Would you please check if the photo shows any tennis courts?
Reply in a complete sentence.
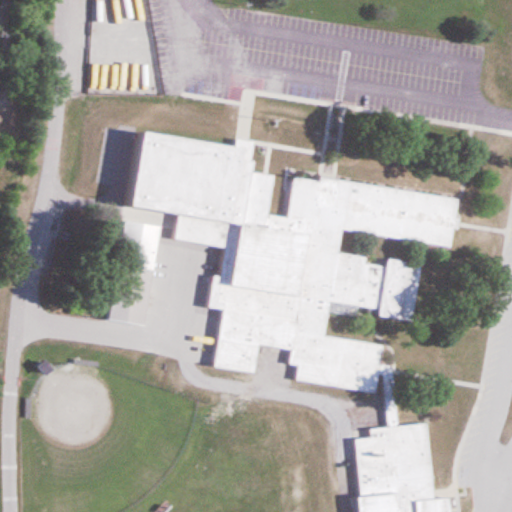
No, I find no tennis court anywhere in the image.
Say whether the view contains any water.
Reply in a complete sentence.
No, the picture contains no water.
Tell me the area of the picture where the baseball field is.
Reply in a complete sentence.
The baseball field appears toward the bottom left of the photo.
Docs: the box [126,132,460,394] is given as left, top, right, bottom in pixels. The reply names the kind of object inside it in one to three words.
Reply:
building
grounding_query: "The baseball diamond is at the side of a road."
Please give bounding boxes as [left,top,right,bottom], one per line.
[22,356,196,512]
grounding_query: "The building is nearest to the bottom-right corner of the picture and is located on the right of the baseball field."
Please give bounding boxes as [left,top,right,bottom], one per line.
[352,422,452,512]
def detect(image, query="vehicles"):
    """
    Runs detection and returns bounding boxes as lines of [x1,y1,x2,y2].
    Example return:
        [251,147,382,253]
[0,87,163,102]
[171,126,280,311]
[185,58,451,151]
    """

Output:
[112,0,122,23]
[123,0,134,20]
[141,64,150,89]
[134,0,144,20]
[130,64,139,90]
[110,64,119,90]
[192,336,215,344]
[90,64,100,89]
[98,64,109,89]
[118,64,128,89]
[96,0,104,22]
